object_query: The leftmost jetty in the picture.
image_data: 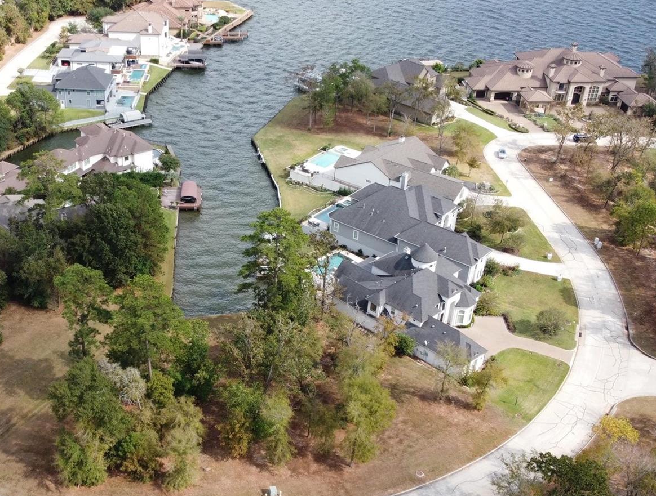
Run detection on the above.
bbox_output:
[108,113,152,132]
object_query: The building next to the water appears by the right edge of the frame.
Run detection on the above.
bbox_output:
[453,36,656,117]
